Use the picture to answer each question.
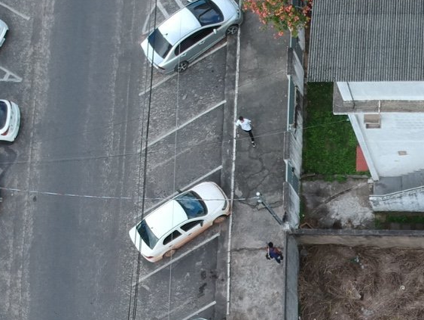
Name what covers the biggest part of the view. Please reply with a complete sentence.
For the most part, this view shows paved ground.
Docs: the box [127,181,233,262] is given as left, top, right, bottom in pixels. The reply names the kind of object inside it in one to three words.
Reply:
car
